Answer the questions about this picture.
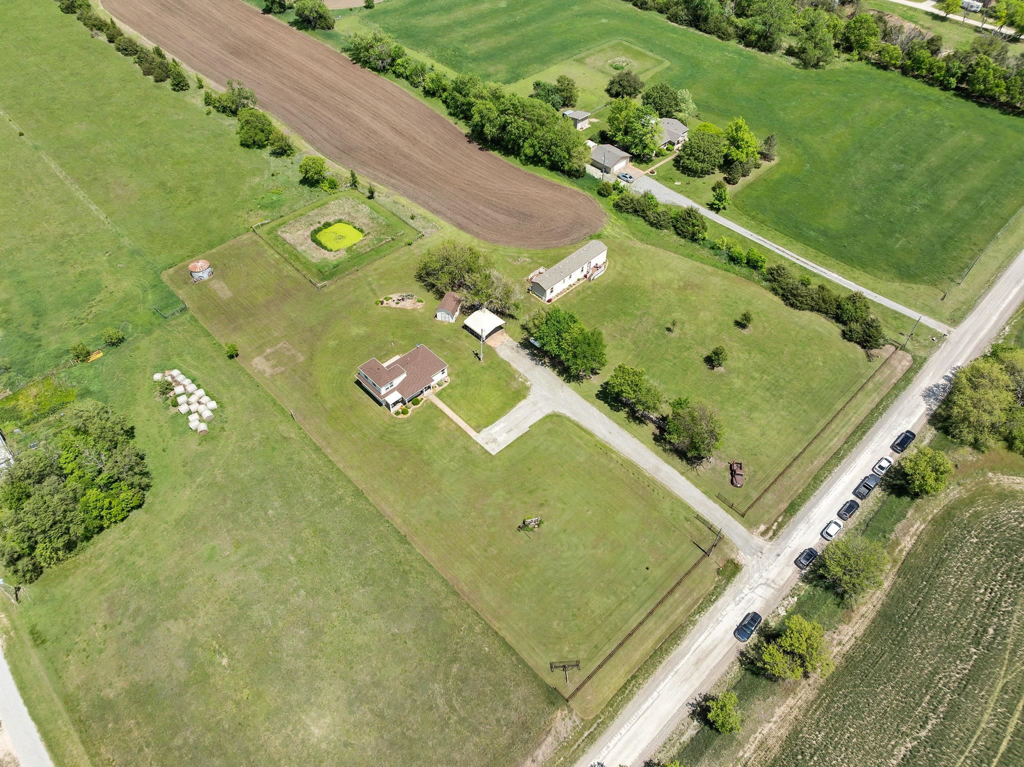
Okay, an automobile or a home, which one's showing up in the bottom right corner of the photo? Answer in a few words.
automobile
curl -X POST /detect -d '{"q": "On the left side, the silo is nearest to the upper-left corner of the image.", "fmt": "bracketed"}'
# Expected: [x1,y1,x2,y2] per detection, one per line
[189,262,212,281]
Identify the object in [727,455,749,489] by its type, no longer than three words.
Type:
truck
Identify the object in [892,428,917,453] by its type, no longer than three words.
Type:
car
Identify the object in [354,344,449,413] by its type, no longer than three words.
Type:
house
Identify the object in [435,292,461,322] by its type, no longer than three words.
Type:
shed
